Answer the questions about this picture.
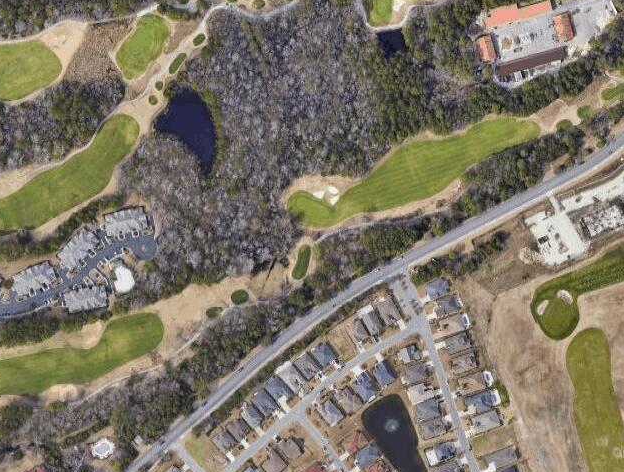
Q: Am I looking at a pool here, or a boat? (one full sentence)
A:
It is a pool that can be seen here.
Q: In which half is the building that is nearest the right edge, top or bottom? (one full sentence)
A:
The top half of the photo is where the building that is nearest the right edge is.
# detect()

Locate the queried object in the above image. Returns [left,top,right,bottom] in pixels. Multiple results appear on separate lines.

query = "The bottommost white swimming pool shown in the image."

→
[92,438,114,458]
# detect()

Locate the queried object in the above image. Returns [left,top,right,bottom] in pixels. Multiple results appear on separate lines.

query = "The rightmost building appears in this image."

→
[553,13,575,41]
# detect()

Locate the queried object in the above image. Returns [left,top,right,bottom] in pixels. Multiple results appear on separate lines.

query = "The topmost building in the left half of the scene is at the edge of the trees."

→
[104,209,148,236]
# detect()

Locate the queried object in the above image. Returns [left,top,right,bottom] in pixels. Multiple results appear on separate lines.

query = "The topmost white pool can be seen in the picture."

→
[114,266,134,293]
